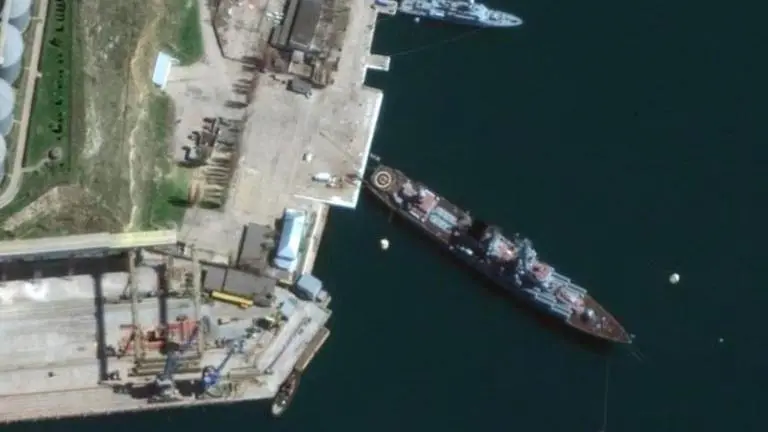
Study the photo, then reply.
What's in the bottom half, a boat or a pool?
boat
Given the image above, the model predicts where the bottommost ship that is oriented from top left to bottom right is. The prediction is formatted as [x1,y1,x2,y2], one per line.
[365,166,629,344]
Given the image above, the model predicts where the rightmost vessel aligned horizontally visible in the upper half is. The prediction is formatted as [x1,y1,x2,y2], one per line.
[394,0,522,28]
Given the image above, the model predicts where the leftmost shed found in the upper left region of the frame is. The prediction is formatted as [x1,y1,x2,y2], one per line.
[152,52,172,88]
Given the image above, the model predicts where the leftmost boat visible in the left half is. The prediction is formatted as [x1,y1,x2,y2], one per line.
[272,372,302,414]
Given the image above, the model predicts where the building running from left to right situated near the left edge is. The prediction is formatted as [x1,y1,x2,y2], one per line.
[0,230,178,280]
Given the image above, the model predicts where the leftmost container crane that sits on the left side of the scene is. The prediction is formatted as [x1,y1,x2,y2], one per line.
[124,248,148,386]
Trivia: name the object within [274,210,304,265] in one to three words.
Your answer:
building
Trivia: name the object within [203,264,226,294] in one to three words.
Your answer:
building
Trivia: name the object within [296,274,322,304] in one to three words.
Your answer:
house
